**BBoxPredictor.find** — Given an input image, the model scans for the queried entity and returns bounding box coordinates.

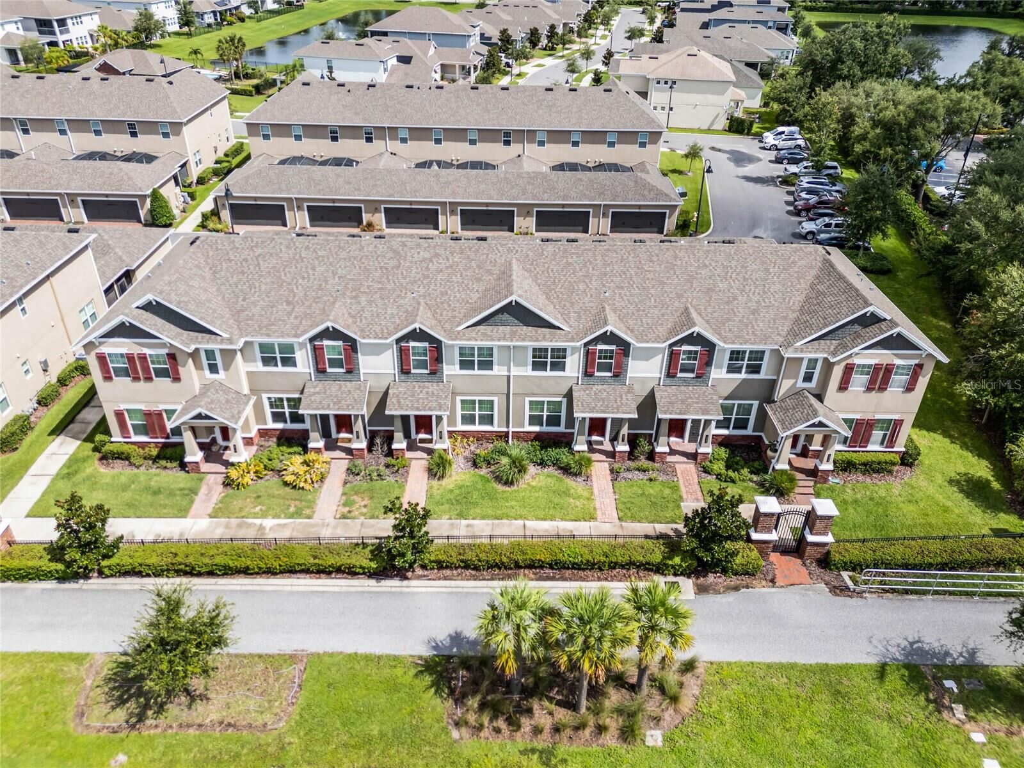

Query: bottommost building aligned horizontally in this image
[63,225,954,481]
